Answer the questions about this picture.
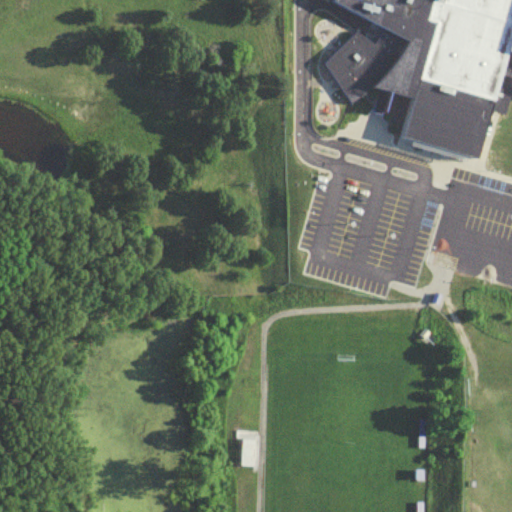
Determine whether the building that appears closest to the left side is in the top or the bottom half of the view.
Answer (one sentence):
You can find the building that appears closest to the left side in the bottom half.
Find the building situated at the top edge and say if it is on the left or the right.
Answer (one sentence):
You can find the building situated at the top edge on the right side of the picture.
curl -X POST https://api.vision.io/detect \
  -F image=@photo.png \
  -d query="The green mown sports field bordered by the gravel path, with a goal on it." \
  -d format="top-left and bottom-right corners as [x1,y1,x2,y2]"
[262,308,429,512]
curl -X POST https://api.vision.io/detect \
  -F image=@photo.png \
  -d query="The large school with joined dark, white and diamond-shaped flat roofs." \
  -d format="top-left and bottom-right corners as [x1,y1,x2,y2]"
[326,0,512,162]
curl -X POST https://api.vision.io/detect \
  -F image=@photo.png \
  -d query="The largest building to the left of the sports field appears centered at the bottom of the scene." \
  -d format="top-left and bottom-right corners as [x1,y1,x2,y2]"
[236,429,259,468]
